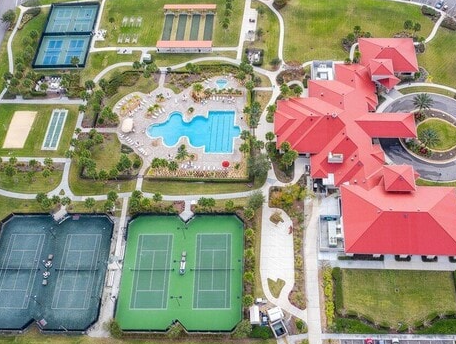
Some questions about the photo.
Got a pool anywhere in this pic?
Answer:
Yes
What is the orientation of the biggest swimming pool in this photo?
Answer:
from left to right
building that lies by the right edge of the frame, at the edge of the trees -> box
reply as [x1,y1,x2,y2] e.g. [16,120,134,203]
[276,37,456,261]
